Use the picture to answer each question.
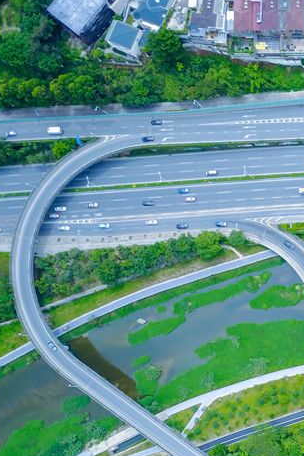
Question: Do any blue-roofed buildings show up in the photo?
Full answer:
Yes, this view includes a blue-roofed building.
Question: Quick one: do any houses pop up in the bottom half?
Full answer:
No, in the bottom half there is no house.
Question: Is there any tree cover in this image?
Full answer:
Yes, tree cover can be seen from above here.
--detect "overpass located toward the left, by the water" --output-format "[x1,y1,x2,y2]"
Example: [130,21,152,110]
[8,139,213,456]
